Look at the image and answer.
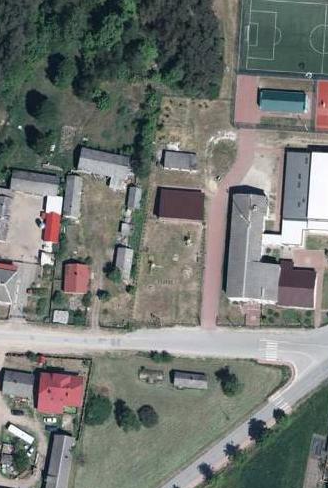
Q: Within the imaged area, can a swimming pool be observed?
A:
No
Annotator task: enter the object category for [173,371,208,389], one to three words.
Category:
shed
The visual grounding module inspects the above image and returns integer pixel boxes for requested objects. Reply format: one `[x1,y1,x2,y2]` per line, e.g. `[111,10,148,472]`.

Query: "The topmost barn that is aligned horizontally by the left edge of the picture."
[11,169,60,196]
